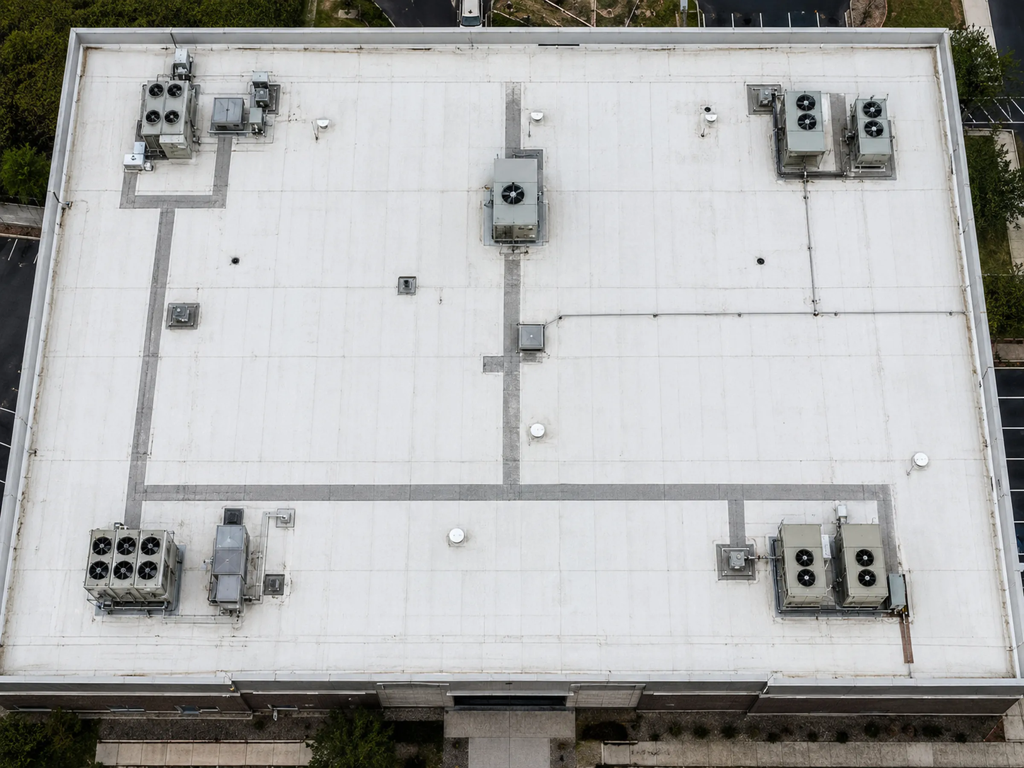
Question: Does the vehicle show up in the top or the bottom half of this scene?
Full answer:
It is in the top half that the vehicle appears.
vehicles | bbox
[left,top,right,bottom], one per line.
[458,0,484,27]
